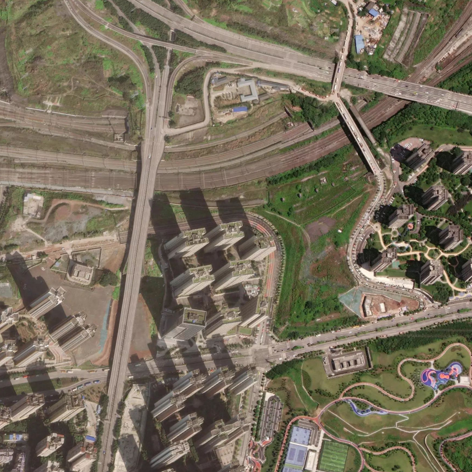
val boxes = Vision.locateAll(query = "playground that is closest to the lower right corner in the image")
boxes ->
[422,362,463,390]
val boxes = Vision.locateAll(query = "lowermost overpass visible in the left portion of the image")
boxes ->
[99,111,163,472]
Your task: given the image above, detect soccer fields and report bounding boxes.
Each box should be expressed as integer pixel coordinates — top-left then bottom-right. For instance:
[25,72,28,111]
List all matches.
[318,441,348,472]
